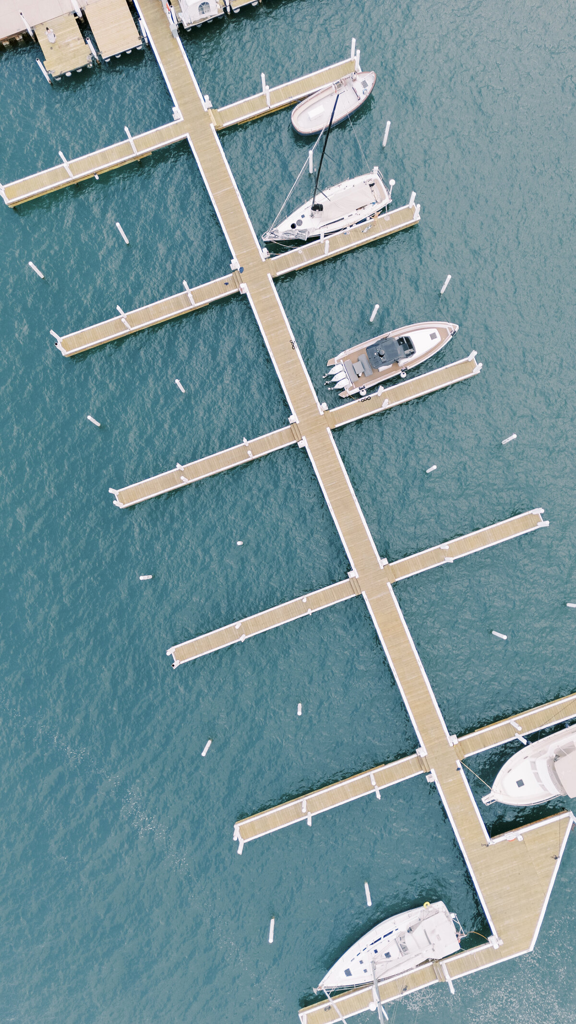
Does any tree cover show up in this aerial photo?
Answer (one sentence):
No, there is no tree cover in the image.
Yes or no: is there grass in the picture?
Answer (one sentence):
No, there is no grass in the image.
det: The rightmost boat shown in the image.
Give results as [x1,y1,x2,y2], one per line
[481,721,576,807]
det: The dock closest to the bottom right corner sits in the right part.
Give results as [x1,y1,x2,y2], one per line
[299,961,447,1024]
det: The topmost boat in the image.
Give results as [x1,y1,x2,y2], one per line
[290,71,377,133]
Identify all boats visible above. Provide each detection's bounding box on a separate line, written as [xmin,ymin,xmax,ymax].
[260,91,397,244]
[290,71,377,133]
[310,899,465,1024]
[325,323,460,398]
[481,721,576,807]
